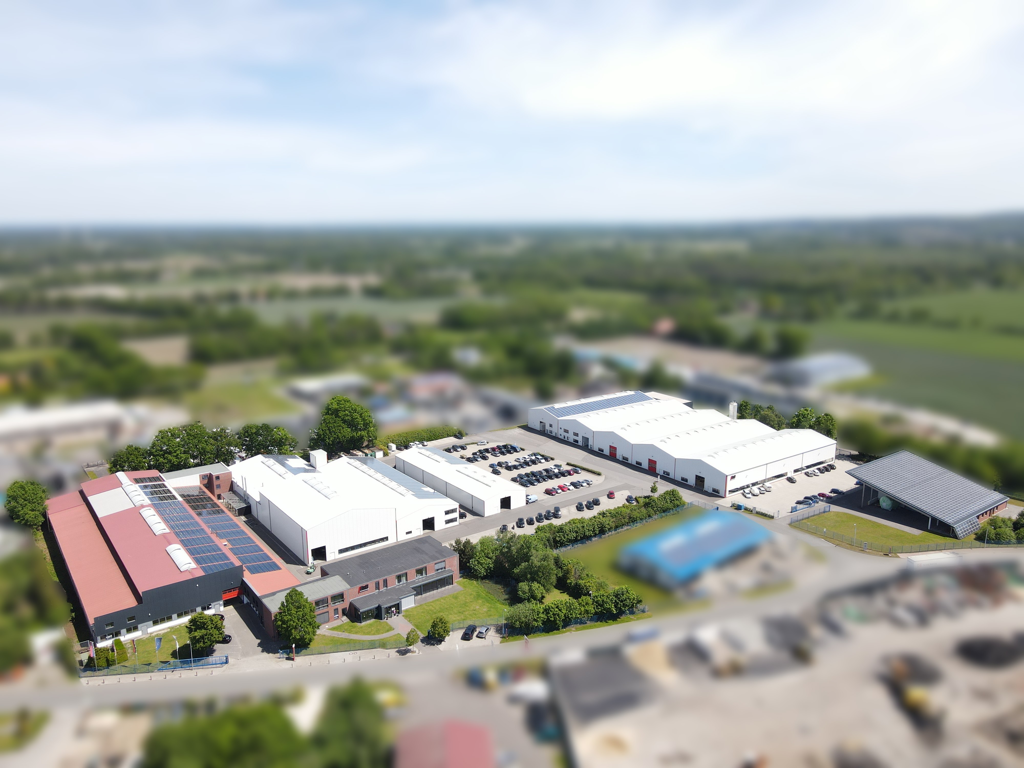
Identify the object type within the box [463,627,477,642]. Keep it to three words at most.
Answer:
car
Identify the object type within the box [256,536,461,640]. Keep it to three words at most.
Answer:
building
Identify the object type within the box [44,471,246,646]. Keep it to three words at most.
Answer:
building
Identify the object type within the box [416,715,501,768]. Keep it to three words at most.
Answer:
house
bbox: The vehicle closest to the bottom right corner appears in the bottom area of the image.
[891,676,929,703]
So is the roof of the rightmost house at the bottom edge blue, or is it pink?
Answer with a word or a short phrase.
pink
